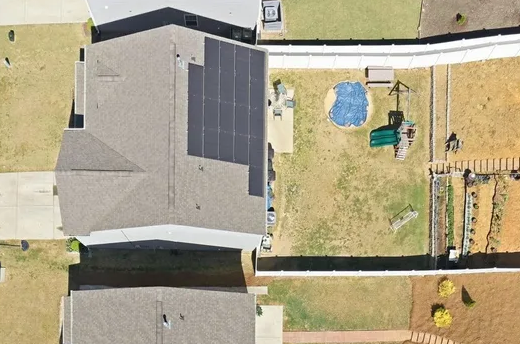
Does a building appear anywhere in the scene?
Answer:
Yes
